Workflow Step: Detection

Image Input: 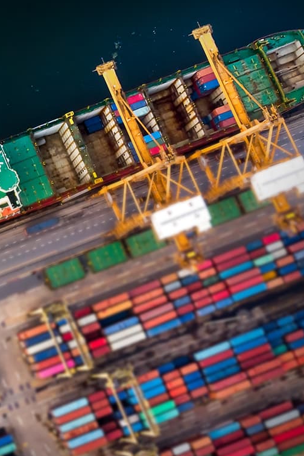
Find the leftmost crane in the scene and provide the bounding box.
[27,299,93,378]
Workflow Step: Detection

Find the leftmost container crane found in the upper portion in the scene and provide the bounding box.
[92,60,216,269]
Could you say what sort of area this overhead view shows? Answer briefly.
port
